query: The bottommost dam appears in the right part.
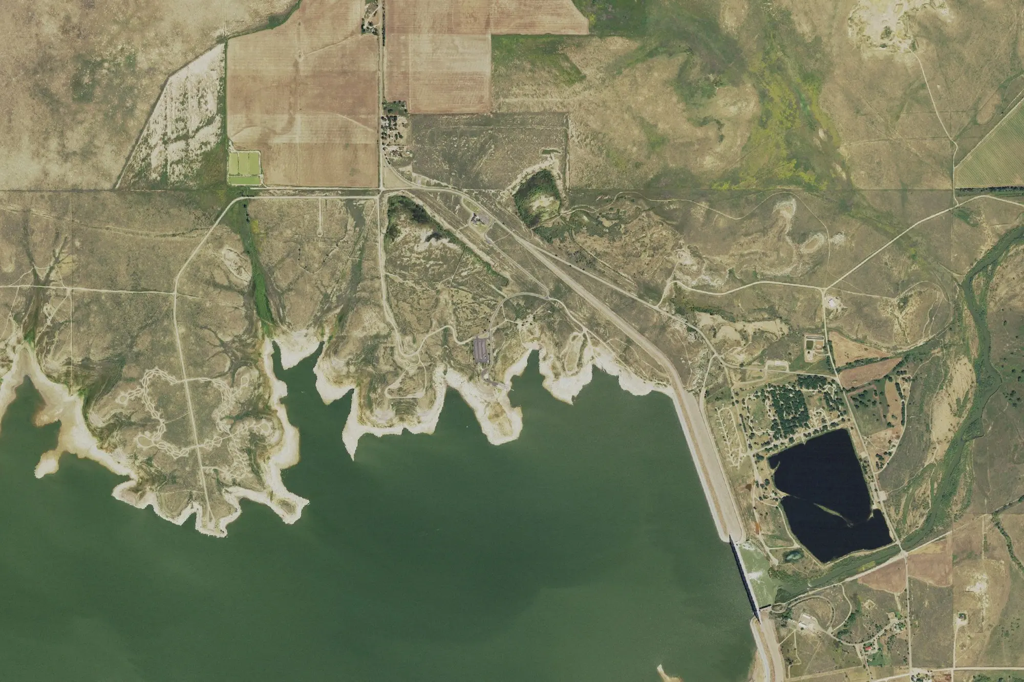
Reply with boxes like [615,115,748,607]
[751,617,786,682]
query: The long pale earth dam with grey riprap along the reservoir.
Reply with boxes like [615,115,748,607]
[521,235,742,542]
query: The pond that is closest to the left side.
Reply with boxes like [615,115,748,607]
[0,340,760,682]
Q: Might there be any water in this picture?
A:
Yes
